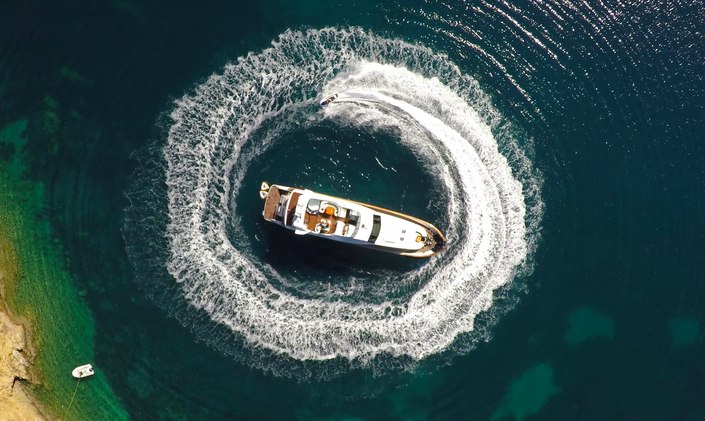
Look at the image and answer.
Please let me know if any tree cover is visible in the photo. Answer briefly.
No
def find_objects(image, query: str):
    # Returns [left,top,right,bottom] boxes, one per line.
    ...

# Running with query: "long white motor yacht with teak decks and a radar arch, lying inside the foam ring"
[260,185,445,256]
